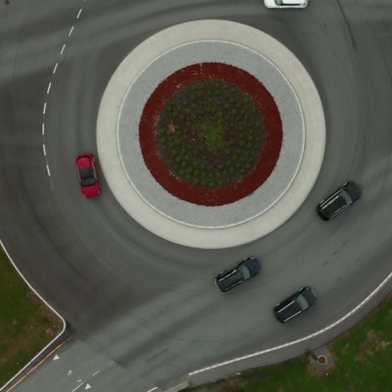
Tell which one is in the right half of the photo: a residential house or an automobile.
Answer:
automobile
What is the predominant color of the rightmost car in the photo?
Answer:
black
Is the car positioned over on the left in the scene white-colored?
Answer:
No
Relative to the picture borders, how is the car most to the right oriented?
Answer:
diagonally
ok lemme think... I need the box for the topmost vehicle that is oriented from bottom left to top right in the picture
[318,183,360,219]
